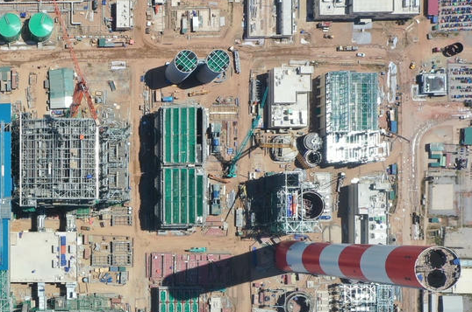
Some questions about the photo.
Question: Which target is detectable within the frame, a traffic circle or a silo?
silo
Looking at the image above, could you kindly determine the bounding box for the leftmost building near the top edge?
[115,0,132,32]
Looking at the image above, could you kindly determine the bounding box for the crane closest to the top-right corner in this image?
[224,87,268,185]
